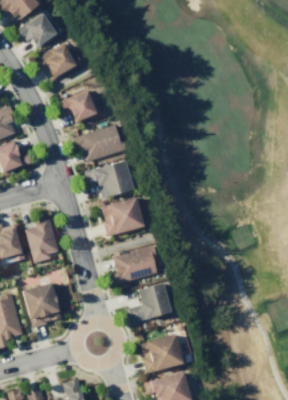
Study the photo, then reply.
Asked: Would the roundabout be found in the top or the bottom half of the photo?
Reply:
bottom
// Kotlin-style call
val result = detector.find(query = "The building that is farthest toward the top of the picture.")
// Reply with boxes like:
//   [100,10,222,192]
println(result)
[2,0,38,19]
